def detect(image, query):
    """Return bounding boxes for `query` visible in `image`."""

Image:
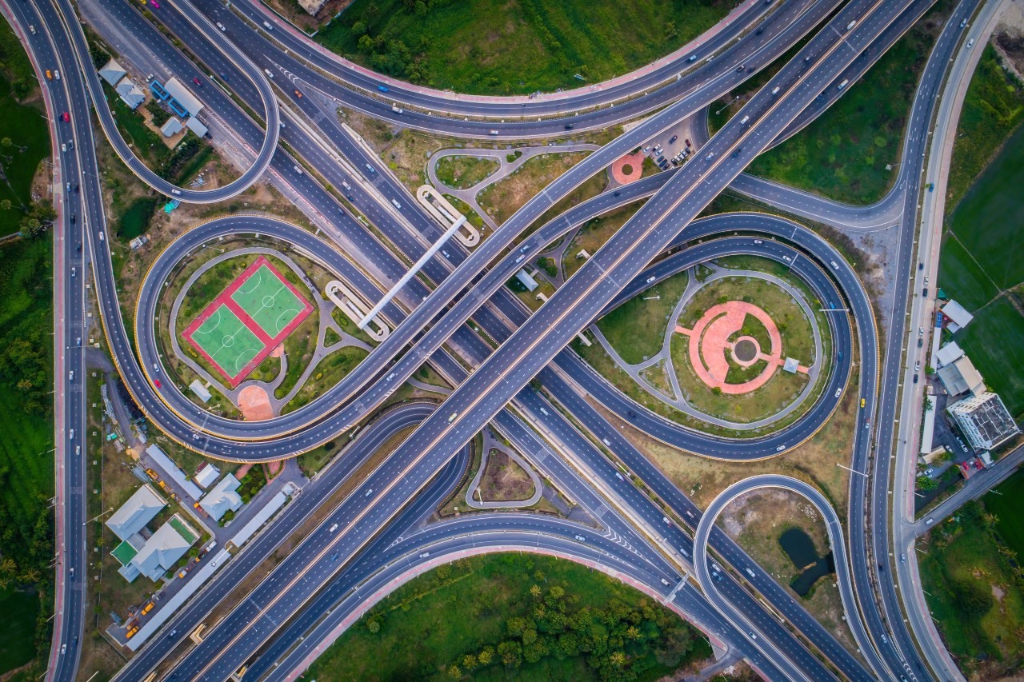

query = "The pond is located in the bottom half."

[780,528,834,597]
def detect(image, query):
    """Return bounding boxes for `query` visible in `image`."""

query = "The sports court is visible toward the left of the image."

[182,256,314,387]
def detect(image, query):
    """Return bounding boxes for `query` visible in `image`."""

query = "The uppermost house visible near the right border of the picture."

[937,299,973,333]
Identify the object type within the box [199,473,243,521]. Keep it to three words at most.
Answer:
house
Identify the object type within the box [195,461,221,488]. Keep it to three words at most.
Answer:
house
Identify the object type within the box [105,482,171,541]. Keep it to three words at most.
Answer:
building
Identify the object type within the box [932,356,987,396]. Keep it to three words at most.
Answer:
building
